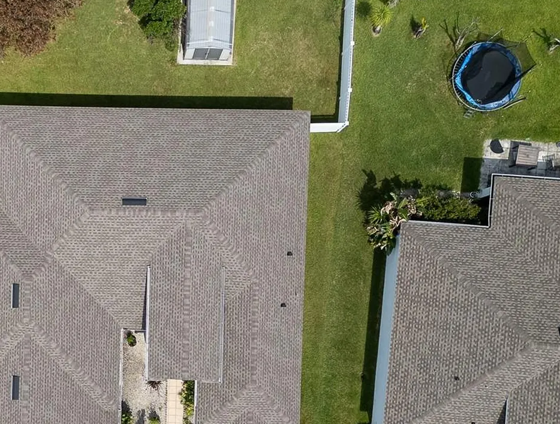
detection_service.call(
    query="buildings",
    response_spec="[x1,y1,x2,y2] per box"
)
[187,0,234,55]
[380,172,560,424]
[0,106,309,424]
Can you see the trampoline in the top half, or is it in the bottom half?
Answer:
top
